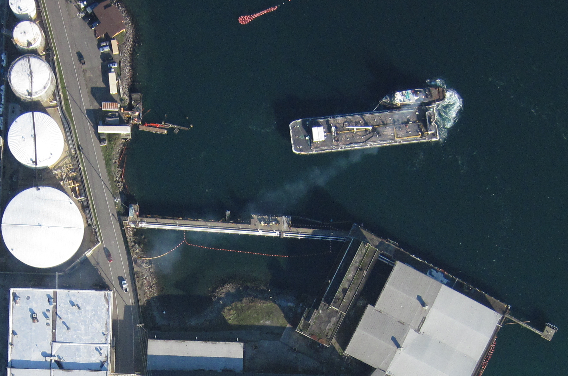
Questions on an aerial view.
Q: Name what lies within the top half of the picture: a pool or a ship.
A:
ship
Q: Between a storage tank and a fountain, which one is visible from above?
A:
storage tank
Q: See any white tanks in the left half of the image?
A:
Yes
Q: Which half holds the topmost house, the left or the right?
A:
left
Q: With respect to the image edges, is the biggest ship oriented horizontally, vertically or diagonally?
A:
horizontally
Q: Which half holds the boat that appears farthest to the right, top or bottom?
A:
top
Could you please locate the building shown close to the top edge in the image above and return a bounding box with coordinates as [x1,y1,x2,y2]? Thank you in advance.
[93,0,126,39]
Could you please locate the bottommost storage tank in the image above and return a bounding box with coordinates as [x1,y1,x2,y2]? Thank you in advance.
[1,185,86,270]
